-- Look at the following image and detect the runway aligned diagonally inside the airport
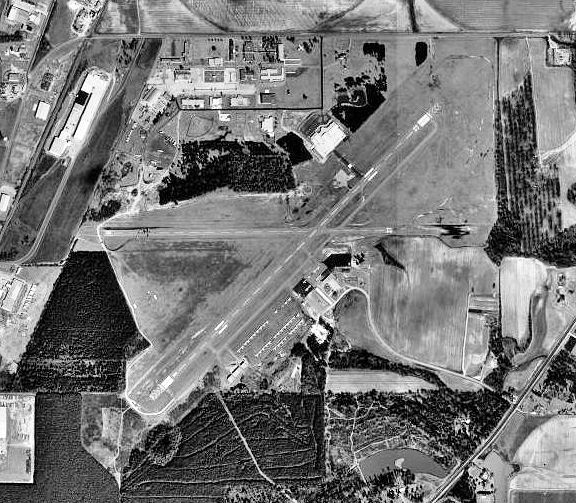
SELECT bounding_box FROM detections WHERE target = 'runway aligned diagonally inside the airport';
[145,100,443,406]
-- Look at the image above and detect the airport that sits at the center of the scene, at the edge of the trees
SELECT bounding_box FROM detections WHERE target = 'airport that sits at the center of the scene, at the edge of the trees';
[97,37,497,426]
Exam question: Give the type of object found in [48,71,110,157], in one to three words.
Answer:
building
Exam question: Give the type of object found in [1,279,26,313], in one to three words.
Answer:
building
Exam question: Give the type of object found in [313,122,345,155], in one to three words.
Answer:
hangar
